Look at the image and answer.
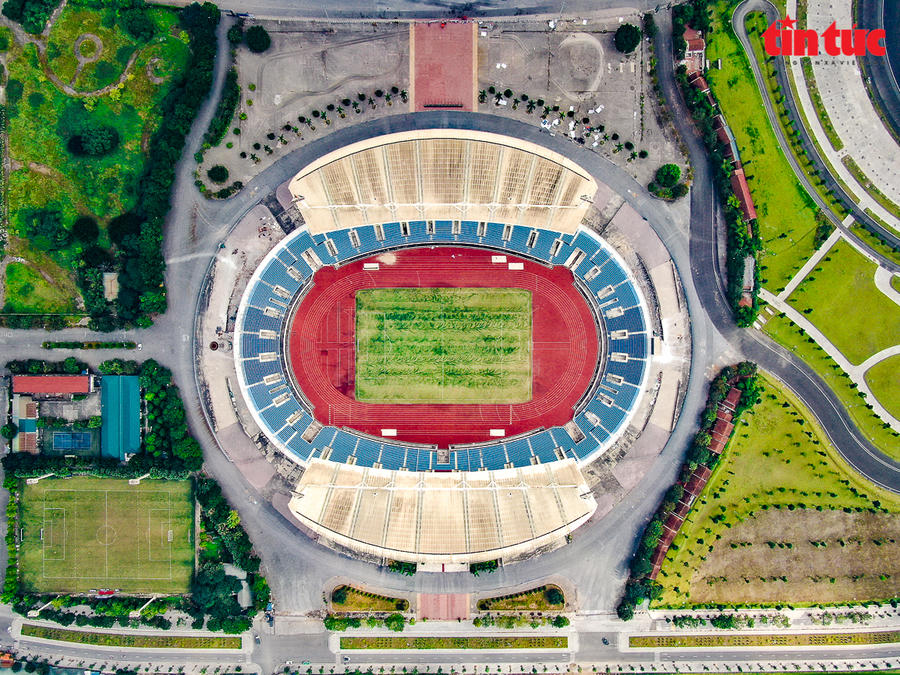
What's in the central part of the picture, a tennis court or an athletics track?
athletics track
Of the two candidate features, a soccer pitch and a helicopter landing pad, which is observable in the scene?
soccer pitch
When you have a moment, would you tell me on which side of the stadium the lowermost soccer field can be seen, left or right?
to the left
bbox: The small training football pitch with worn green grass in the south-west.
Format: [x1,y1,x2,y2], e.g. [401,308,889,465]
[20,478,194,593]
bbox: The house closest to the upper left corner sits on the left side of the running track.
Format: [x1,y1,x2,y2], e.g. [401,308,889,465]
[104,272,120,300]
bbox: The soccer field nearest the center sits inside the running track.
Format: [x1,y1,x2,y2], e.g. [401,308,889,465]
[355,287,533,403]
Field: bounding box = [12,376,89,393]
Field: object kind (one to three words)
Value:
building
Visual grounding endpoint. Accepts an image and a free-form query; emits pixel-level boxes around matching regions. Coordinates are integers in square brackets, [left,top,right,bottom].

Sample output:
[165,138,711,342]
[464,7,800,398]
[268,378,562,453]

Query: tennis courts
[39,426,101,456]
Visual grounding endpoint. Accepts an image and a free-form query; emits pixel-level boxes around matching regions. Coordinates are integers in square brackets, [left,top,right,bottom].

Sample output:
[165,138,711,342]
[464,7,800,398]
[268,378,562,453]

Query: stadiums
[234,128,655,562]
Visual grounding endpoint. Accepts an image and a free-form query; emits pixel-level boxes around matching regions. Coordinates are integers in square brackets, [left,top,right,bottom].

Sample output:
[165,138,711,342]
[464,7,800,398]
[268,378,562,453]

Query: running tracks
[287,247,602,448]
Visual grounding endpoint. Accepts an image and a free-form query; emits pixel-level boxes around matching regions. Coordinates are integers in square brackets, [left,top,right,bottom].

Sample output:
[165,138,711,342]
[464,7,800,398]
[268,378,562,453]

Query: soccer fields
[355,287,533,403]
[20,478,194,593]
